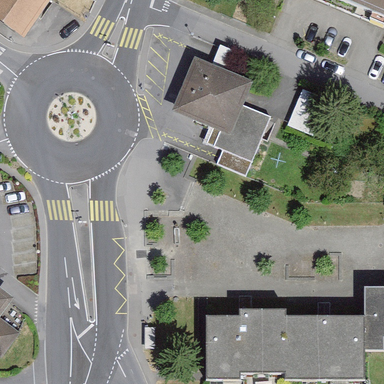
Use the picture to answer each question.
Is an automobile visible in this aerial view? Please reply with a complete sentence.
Yes, the picture does show an automobile.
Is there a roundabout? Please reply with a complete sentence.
Yes, there is a roundabout in the image.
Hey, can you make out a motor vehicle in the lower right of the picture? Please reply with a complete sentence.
No, I see no motor vehicle in the lower right of the picture.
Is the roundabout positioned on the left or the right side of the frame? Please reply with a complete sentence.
You can find the roundabout on the left side of the picture.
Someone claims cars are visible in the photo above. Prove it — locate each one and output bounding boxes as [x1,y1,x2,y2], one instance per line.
[6,191,27,202]
[321,58,346,75]
[338,36,352,58]
[324,26,338,50]
[304,22,318,44]
[59,18,82,39]
[0,181,12,192]
[370,55,384,80]
[8,204,30,214]
[296,49,318,64]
